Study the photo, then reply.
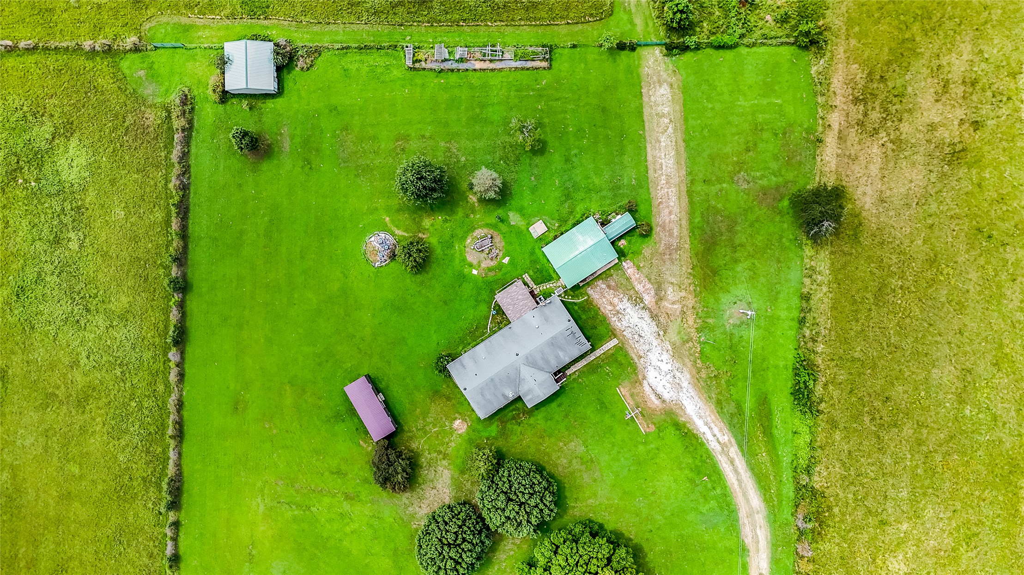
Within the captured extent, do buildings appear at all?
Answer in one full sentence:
Yes, there's a building down there.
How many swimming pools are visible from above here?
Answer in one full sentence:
The picture shows no swimming pools.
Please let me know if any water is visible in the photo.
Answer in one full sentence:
No, there's no water in this view.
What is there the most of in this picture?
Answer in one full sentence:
Most of the picture is covered by grass.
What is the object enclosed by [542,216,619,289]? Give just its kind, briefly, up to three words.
building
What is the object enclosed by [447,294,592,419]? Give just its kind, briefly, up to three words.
house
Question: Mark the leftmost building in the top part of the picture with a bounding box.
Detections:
[224,39,278,93]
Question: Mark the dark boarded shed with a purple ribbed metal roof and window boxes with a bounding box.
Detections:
[343,376,399,442]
